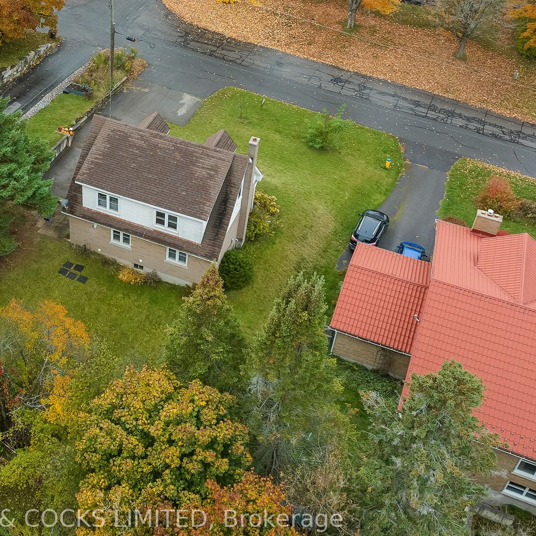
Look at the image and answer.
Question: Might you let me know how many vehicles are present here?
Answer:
two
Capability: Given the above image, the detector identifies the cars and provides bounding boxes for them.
[395,236,430,256]
[340,207,387,257]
